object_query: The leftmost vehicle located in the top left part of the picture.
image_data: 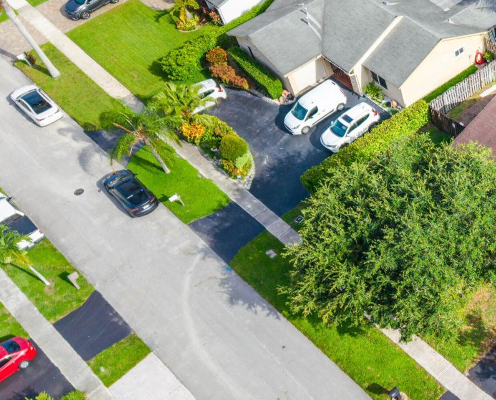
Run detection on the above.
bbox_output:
[6,80,58,120]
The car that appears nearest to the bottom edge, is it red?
Yes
